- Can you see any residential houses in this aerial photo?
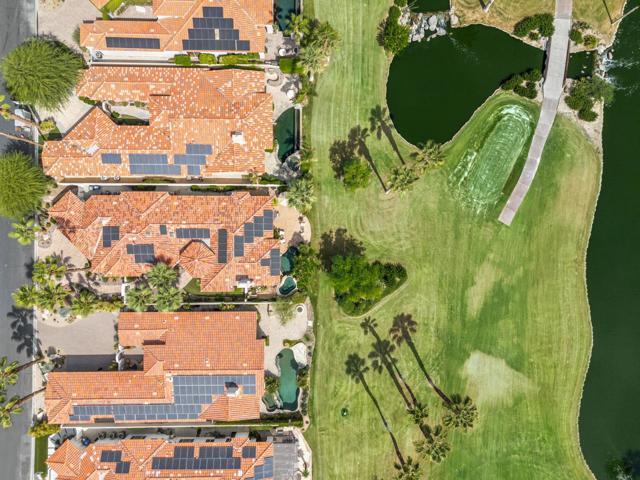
Yes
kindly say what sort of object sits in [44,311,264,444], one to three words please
house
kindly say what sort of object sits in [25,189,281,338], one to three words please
house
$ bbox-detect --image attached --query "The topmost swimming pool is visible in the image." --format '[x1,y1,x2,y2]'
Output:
[274,0,298,32]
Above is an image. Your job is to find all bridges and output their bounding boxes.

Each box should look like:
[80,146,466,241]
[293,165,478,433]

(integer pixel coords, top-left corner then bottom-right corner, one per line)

[544,18,574,100]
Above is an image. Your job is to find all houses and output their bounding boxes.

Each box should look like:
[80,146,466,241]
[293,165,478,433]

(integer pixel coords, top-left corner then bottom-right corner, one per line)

[75,0,275,56]
[12,62,274,176]
[44,311,264,444]
[42,433,274,480]
[25,189,281,338]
